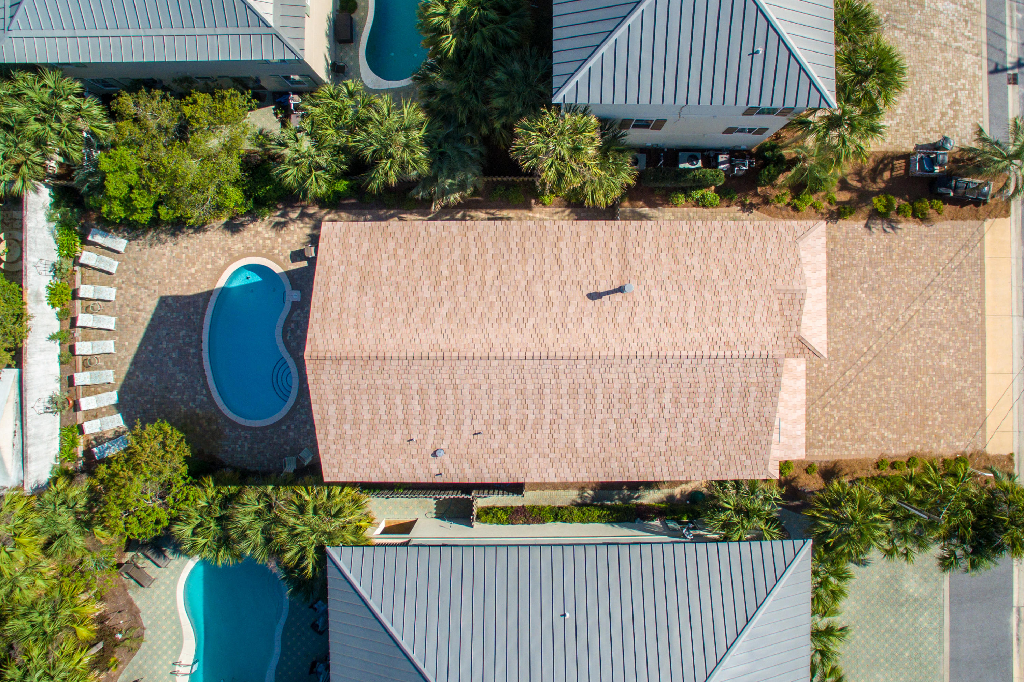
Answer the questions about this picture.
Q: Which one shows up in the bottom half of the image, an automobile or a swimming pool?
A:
swimming pool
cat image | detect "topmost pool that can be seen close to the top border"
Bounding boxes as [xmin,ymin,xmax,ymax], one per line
[358,0,442,87]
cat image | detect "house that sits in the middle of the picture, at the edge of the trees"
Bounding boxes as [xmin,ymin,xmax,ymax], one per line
[303,219,828,484]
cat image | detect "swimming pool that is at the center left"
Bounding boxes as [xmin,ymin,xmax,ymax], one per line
[201,257,300,427]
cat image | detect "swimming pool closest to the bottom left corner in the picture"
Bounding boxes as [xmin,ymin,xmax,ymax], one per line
[168,543,291,682]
